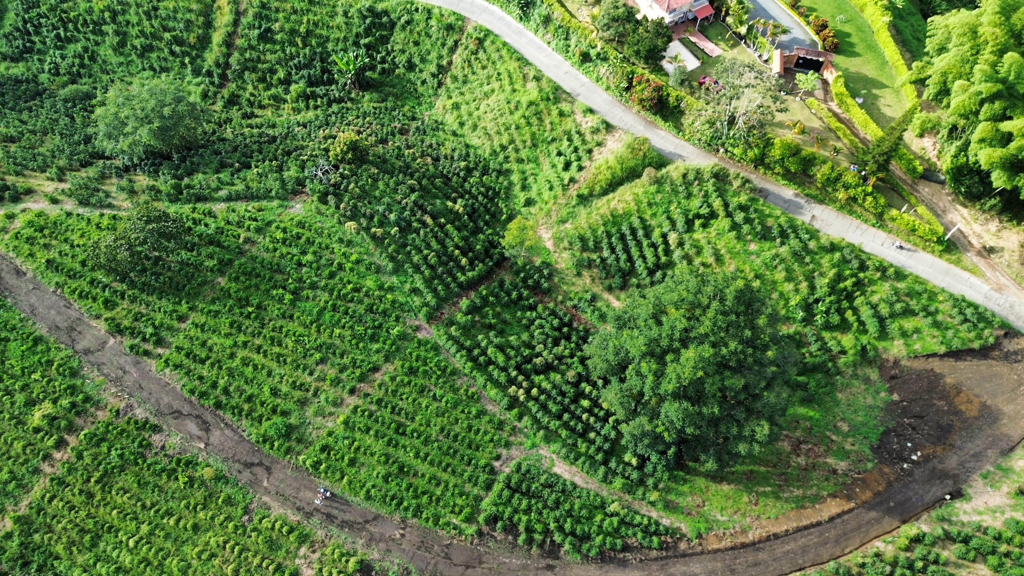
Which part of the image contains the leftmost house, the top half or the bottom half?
top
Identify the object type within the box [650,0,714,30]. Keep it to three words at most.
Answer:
house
